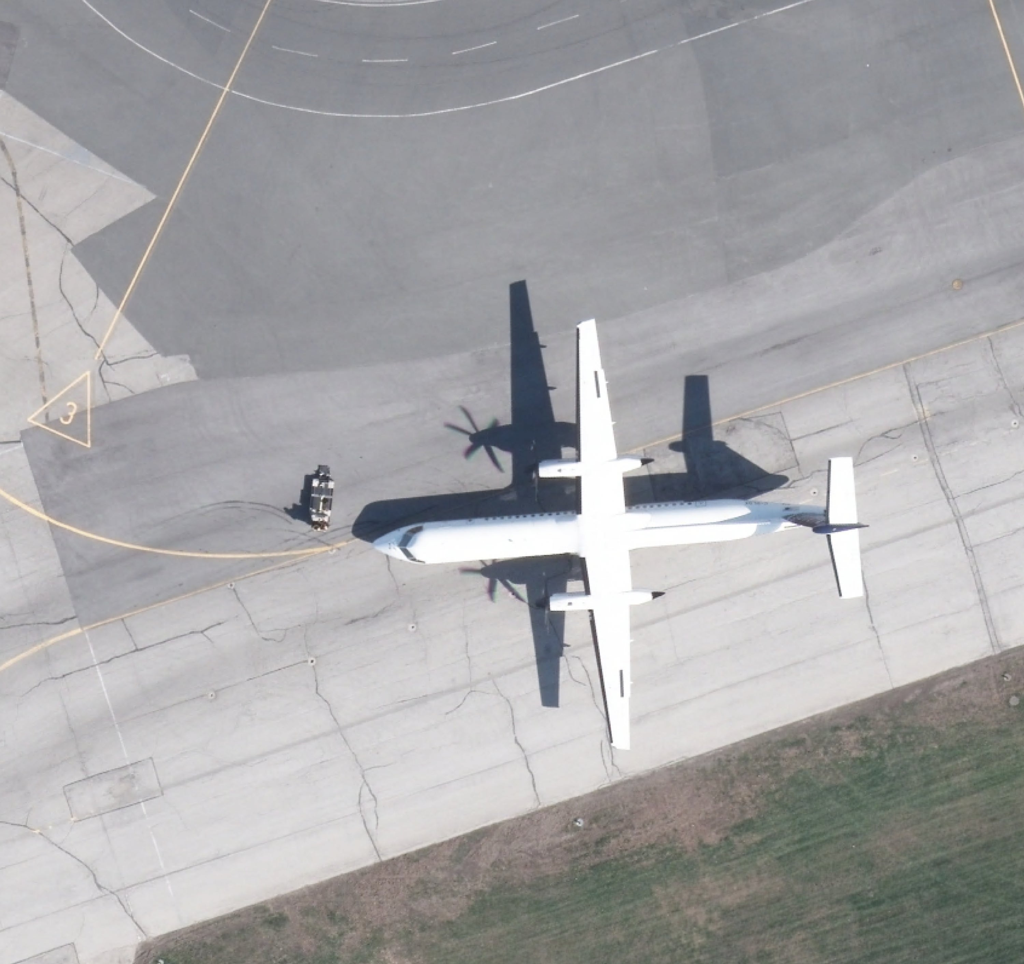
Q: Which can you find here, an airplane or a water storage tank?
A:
airplane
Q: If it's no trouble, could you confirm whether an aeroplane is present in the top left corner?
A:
No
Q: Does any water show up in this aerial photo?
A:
No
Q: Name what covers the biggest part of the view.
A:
paved ground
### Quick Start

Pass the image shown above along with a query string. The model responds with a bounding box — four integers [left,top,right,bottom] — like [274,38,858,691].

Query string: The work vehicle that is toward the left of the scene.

[310,465,334,532]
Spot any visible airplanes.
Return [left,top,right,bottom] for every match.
[373,320,869,749]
